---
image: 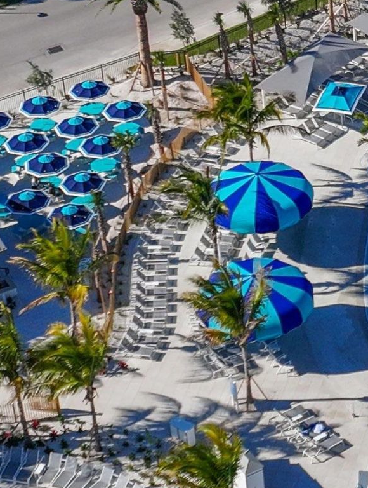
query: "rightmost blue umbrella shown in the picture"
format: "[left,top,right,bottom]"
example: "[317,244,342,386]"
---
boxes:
[312,81,368,131]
